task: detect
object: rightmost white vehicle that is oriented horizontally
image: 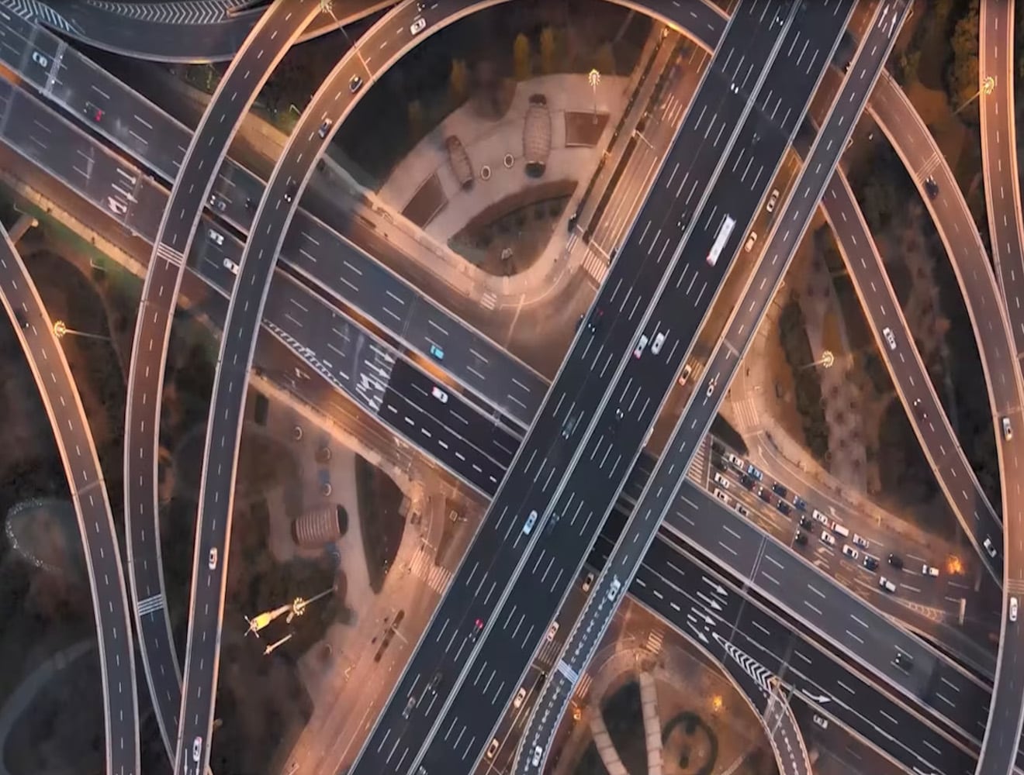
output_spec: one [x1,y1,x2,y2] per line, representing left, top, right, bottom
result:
[918,565,943,578]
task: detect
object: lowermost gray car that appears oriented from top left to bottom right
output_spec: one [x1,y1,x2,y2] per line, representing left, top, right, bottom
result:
[811,714,830,730]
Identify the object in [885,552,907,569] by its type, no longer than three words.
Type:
car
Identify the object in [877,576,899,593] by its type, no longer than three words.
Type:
vehicle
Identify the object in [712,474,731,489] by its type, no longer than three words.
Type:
car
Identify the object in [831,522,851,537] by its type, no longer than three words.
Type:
vehicle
